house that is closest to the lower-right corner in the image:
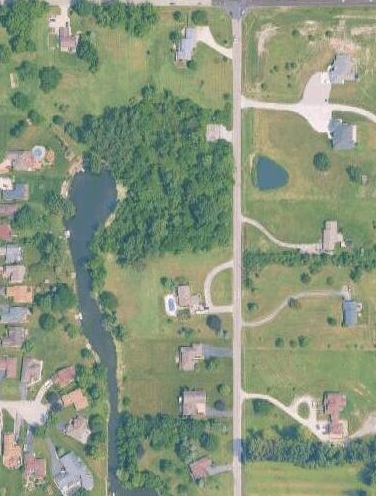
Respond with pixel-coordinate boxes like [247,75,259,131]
[329,393,346,436]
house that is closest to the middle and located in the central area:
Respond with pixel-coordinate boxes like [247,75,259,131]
[179,286,200,308]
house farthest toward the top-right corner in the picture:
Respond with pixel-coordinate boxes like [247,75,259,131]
[331,58,360,84]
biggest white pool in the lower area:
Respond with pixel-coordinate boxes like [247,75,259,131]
[165,293,178,314]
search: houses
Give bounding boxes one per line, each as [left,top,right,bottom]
[0,245,21,263]
[4,434,22,468]
[344,301,357,327]
[181,26,196,60]
[179,286,200,308]
[64,413,92,441]
[323,221,339,250]
[2,184,29,200]
[0,356,18,378]
[25,452,47,479]
[51,449,96,496]
[64,387,90,412]
[3,326,26,346]
[22,357,41,385]
[184,393,207,415]
[0,201,19,212]
[188,458,213,482]
[0,224,12,240]
[4,265,25,282]
[207,124,222,141]
[1,307,29,323]
[8,286,32,302]
[181,345,205,369]
[7,149,31,169]
[60,26,77,51]
[331,58,360,84]
[329,393,346,436]
[52,365,77,388]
